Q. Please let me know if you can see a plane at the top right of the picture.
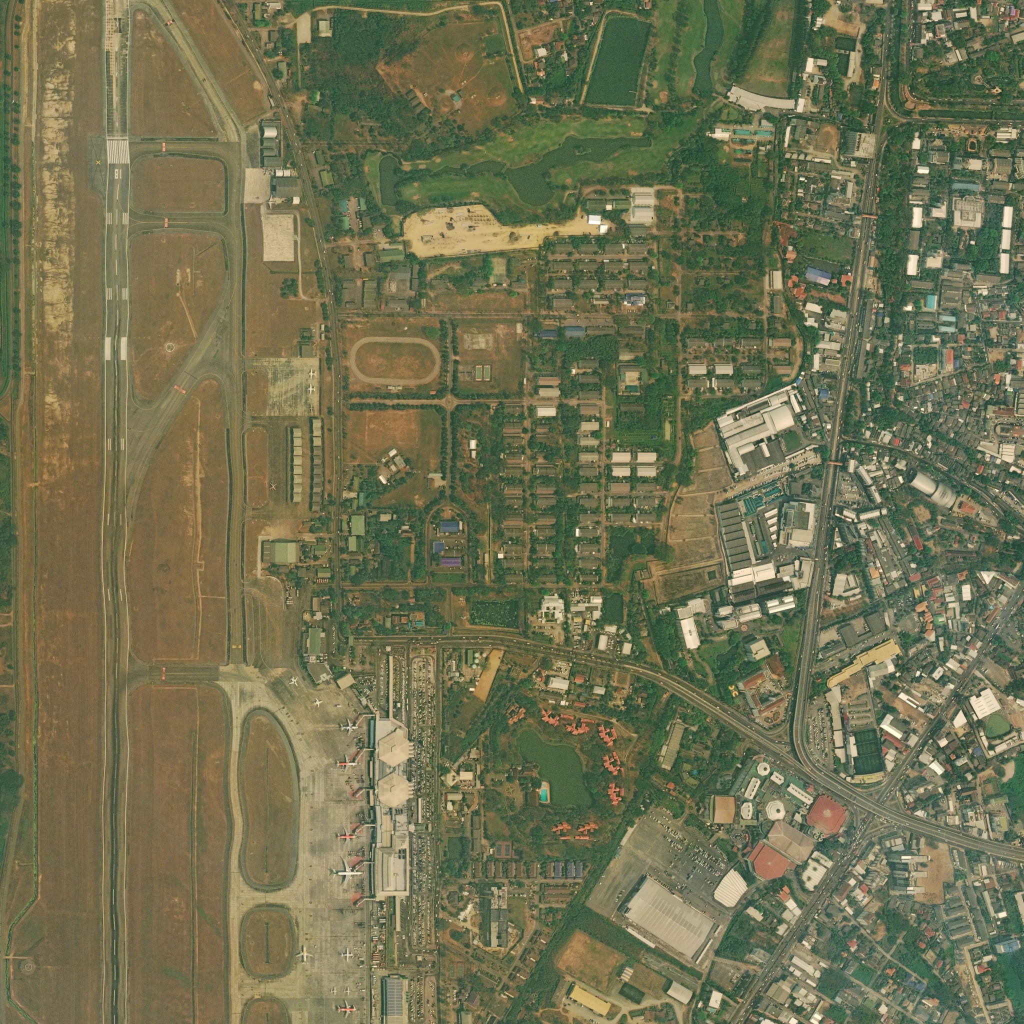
No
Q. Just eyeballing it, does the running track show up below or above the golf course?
below it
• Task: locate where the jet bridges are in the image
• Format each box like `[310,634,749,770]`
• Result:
[354,898,375,909]
[351,862,373,872]
[353,824,374,836]
[352,748,373,764]
[353,714,375,728]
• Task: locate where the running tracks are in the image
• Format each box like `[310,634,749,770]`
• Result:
[350,337,441,385]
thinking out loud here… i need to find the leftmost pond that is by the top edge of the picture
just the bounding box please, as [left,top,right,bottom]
[585,14,652,106]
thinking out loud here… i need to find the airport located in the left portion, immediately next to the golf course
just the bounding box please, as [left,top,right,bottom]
[88,0,369,1024]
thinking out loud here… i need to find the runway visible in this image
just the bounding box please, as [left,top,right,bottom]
[102,0,130,1024]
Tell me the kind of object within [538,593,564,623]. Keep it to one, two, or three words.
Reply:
house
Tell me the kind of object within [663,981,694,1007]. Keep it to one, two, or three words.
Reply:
building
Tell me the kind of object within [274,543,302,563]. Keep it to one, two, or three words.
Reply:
hangar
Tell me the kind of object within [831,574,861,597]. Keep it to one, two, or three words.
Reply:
building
